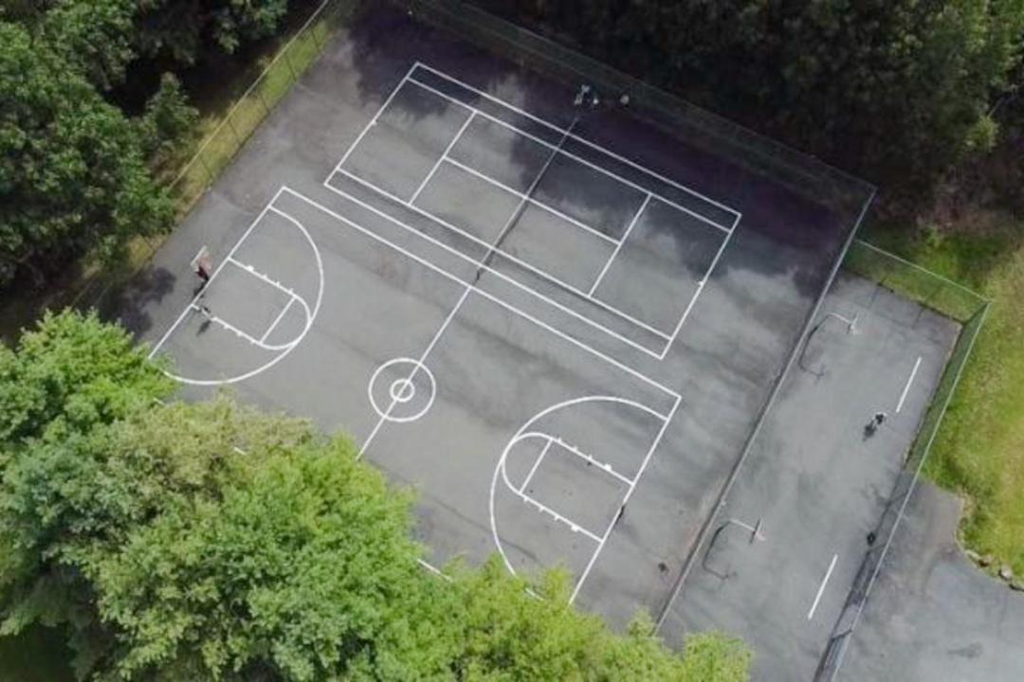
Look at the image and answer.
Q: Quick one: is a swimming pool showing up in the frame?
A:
No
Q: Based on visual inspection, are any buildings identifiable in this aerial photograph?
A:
No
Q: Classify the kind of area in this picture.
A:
sports ground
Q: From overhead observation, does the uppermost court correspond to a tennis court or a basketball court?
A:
tennis court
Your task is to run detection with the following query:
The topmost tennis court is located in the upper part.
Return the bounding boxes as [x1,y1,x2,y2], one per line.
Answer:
[323,61,742,361]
